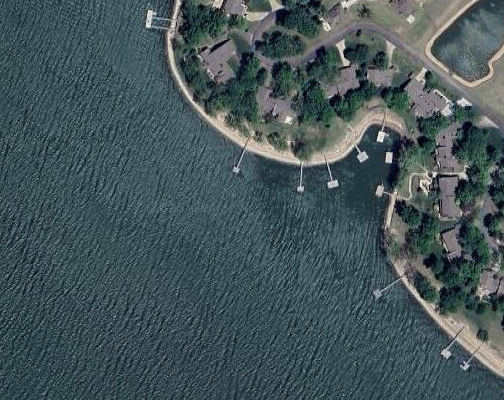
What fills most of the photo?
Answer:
water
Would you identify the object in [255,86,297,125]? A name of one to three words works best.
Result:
house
